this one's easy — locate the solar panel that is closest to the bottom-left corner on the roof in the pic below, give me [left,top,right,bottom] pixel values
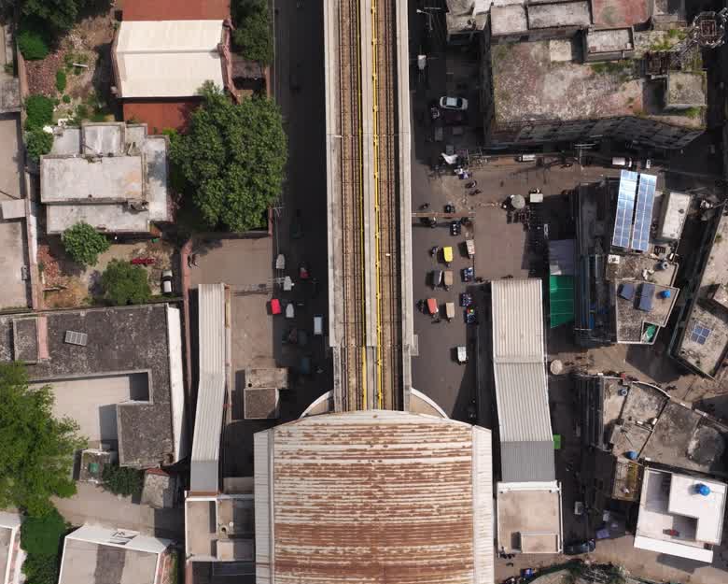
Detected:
[64,331,86,346]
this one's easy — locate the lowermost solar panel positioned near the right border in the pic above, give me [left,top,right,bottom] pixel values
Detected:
[691,324,710,345]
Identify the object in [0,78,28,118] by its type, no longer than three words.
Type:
shed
